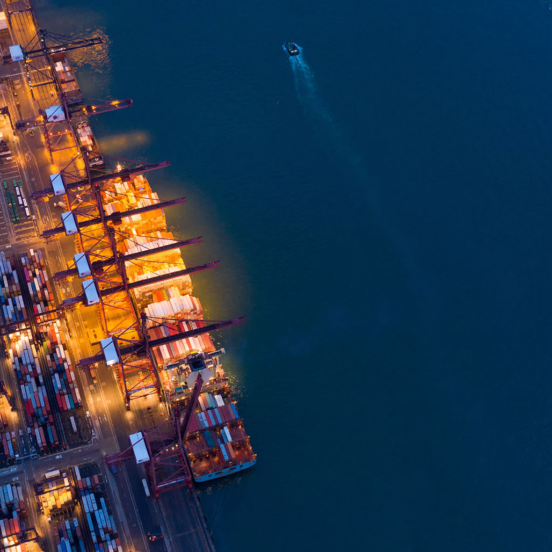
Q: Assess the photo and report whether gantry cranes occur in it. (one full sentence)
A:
Yes, you can see a gantry crane in this photo.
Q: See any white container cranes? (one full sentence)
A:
No, no white container crane is visible in the view.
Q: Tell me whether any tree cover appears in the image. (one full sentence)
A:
No, the picture contains no tree cover.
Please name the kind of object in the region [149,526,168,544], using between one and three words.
work vehicle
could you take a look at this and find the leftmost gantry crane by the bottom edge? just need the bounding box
[0,526,43,552]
